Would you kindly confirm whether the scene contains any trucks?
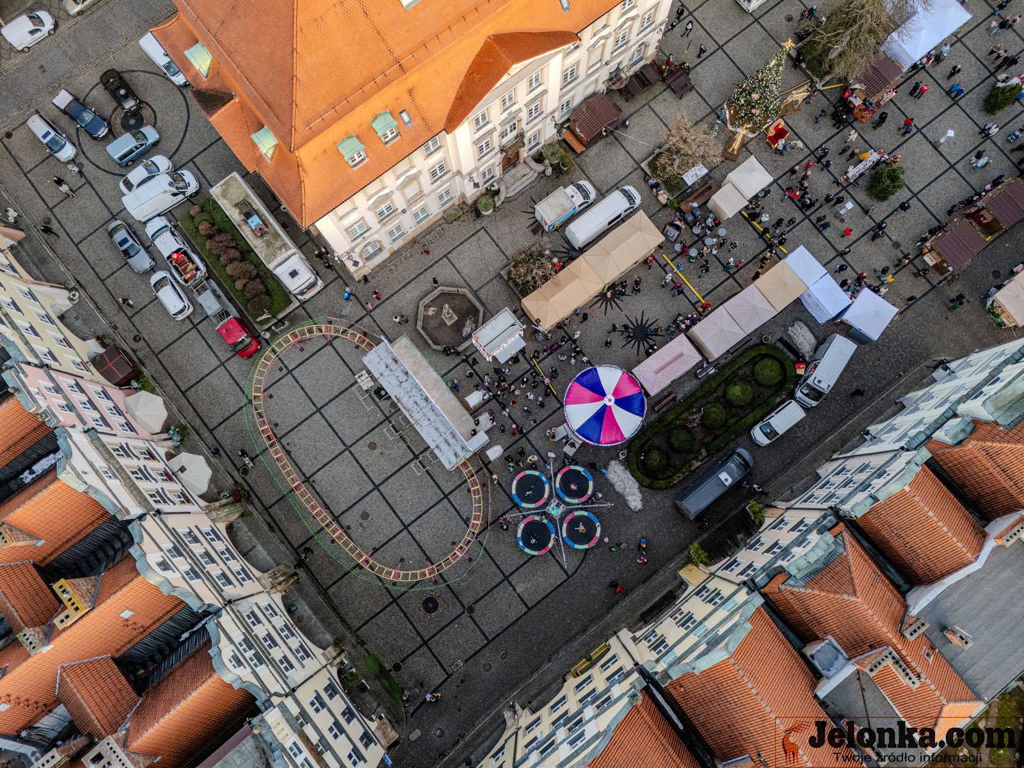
Yes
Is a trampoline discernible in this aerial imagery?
Yes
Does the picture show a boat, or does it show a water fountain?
water fountain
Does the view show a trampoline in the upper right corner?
No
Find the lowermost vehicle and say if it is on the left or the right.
right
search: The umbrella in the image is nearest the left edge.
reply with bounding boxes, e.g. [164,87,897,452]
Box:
[127,392,168,431]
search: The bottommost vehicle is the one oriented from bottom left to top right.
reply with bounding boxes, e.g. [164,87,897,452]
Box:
[674,446,758,522]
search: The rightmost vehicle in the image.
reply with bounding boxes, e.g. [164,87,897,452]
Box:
[792,330,872,412]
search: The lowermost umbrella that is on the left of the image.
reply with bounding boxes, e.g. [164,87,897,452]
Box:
[173,455,213,494]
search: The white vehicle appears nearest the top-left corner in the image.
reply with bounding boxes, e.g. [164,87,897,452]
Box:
[0,13,59,54]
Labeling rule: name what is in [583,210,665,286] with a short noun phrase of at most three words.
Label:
tent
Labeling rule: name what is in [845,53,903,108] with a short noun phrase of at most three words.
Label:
shed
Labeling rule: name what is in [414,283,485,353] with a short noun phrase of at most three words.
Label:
fountain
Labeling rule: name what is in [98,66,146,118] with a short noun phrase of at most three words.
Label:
car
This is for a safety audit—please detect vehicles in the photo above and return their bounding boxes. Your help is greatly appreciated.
[114,151,177,195]
[144,214,208,288]
[0,13,59,54]
[529,177,600,237]
[115,173,203,229]
[792,330,872,412]
[125,19,187,92]
[561,183,645,253]
[148,268,198,325]
[99,123,165,169]
[19,109,83,165]
[98,66,146,118]
[749,399,811,449]
[674,446,758,522]
[103,219,159,278]
[736,0,786,17]
[196,157,327,301]
[184,271,264,360]
[42,79,117,143]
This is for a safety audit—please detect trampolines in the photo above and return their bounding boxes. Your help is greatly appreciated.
[512,471,549,508]
[555,465,593,503]
[517,515,555,555]
[562,510,601,550]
